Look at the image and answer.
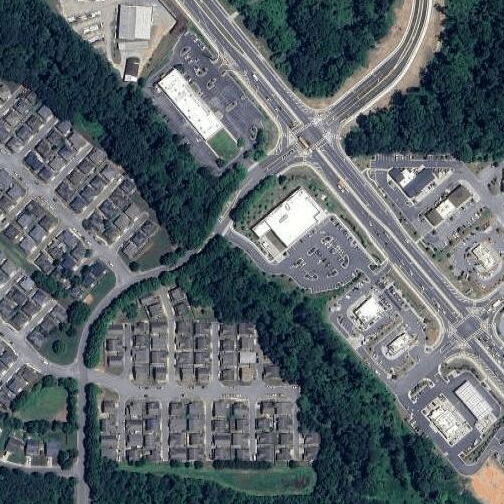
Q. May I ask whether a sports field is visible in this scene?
No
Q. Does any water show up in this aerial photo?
No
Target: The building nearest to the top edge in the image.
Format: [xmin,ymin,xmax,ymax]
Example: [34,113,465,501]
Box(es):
[117,6,151,39]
